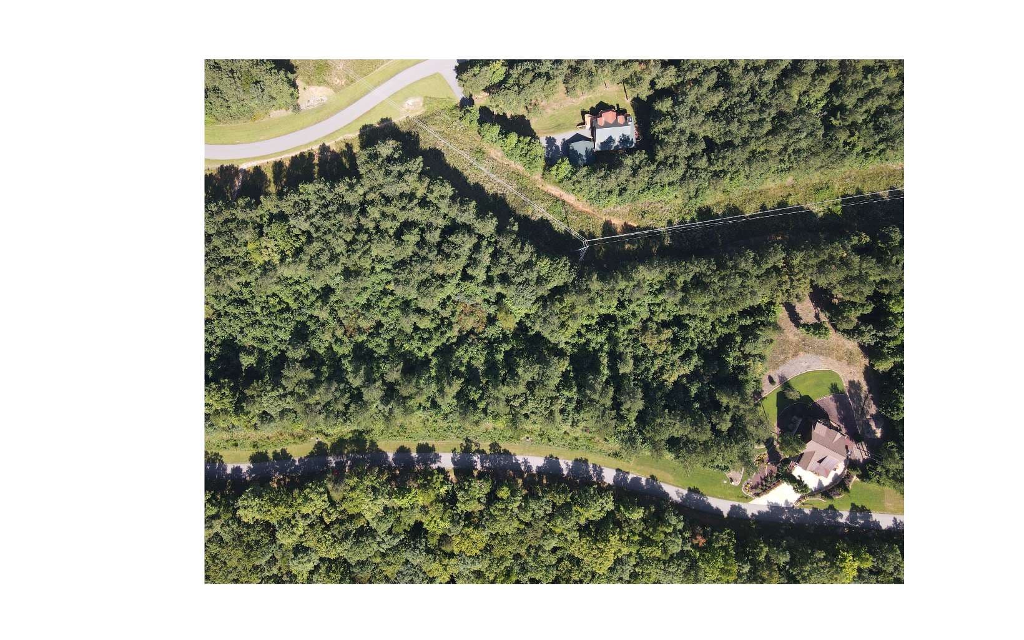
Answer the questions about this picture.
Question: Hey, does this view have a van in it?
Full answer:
No, there is no van in the image.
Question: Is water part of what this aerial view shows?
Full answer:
No, the picture contains no water.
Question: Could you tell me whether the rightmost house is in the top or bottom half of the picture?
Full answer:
The bottom half of the photo is where the rightmost house is.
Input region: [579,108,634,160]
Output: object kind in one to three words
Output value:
house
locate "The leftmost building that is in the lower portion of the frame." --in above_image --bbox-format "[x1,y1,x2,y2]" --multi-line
[773,412,853,481]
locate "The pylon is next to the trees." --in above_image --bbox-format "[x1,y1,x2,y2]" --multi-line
[572,240,590,268]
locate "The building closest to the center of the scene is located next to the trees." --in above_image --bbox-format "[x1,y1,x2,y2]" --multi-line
[570,138,594,168]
